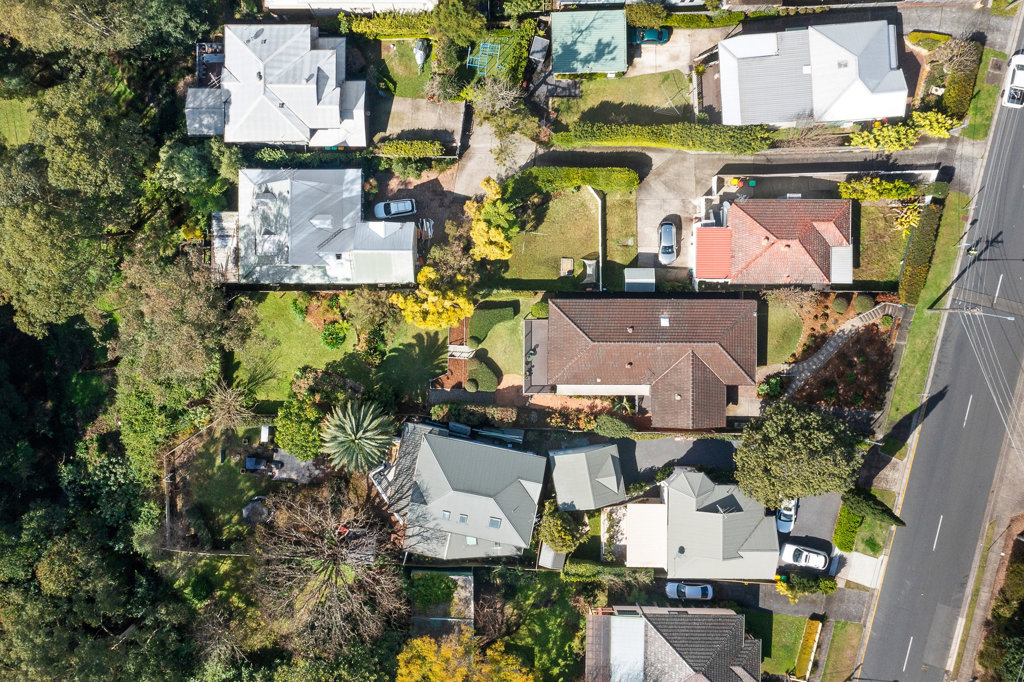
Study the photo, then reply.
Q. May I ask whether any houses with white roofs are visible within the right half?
Yes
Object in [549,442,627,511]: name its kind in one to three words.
building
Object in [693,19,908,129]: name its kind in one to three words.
house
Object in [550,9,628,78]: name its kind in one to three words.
building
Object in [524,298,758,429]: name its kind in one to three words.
house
